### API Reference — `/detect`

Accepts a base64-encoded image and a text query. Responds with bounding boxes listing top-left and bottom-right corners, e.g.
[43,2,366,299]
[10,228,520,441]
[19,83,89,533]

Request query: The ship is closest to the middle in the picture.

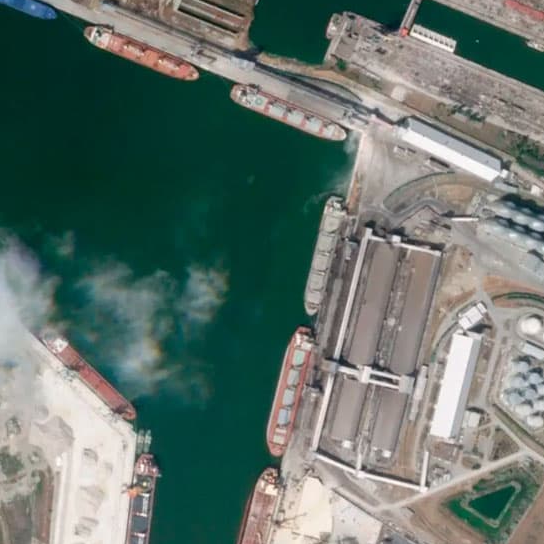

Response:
[305,195,346,316]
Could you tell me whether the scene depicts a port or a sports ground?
port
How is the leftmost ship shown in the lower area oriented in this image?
on a diagonal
